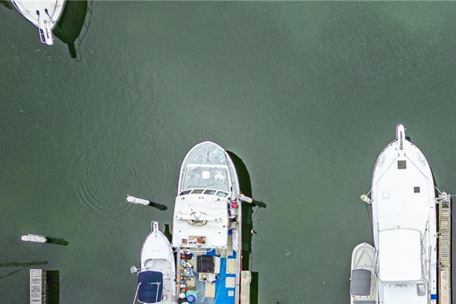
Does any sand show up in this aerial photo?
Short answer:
No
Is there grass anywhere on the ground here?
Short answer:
No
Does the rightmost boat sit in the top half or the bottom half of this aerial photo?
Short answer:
bottom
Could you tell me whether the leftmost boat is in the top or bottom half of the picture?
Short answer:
top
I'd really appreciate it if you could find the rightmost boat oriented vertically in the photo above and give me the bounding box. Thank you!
[371,123,438,304]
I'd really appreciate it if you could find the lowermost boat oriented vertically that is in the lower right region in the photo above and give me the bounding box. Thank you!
[349,243,377,304]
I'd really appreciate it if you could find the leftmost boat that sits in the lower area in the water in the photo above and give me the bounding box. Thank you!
[130,220,176,304]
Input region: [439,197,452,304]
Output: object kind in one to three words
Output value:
pier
